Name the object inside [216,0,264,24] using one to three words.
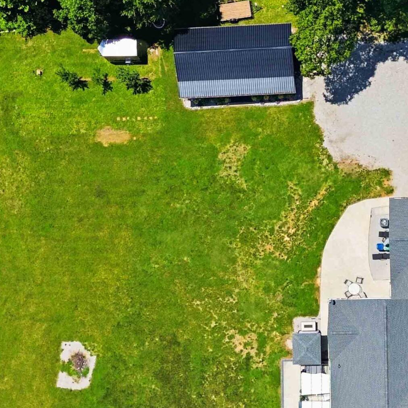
trailer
